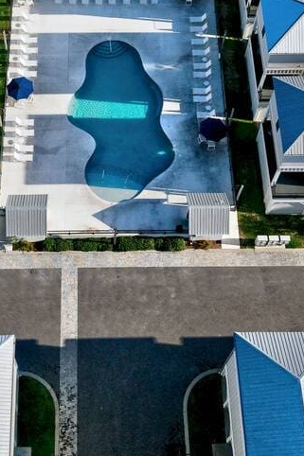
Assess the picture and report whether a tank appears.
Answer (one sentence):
No, there isn't any tank down there.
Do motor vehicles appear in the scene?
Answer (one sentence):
No, there isn't any motor vehicle down there.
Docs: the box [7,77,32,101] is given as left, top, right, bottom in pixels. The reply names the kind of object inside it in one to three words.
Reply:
umbrella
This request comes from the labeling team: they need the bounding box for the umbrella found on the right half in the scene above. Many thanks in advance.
[199,117,226,141]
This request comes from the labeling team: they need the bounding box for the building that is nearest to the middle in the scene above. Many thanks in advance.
[183,192,231,248]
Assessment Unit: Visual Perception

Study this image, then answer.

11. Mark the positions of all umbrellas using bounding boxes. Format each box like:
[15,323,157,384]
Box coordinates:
[7,77,32,101]
[199,117,226,141]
